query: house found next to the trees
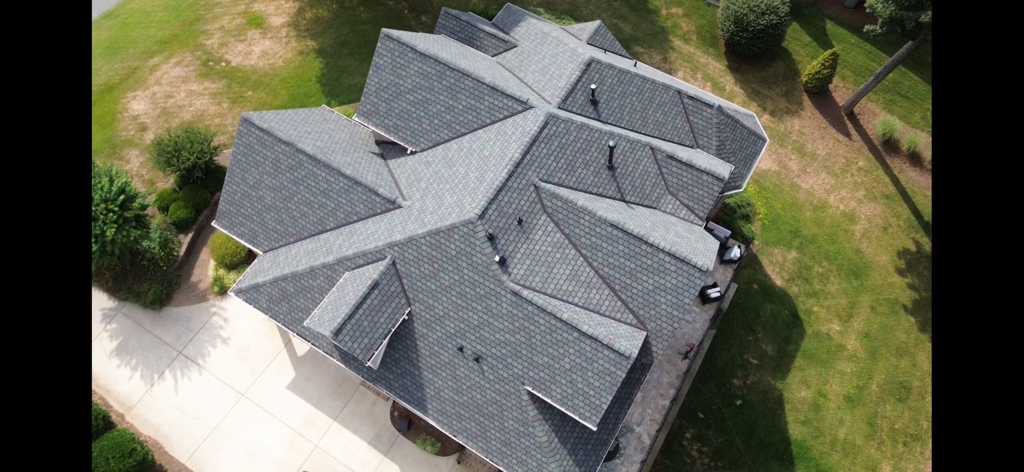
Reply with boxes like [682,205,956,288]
[210,2,770,472]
